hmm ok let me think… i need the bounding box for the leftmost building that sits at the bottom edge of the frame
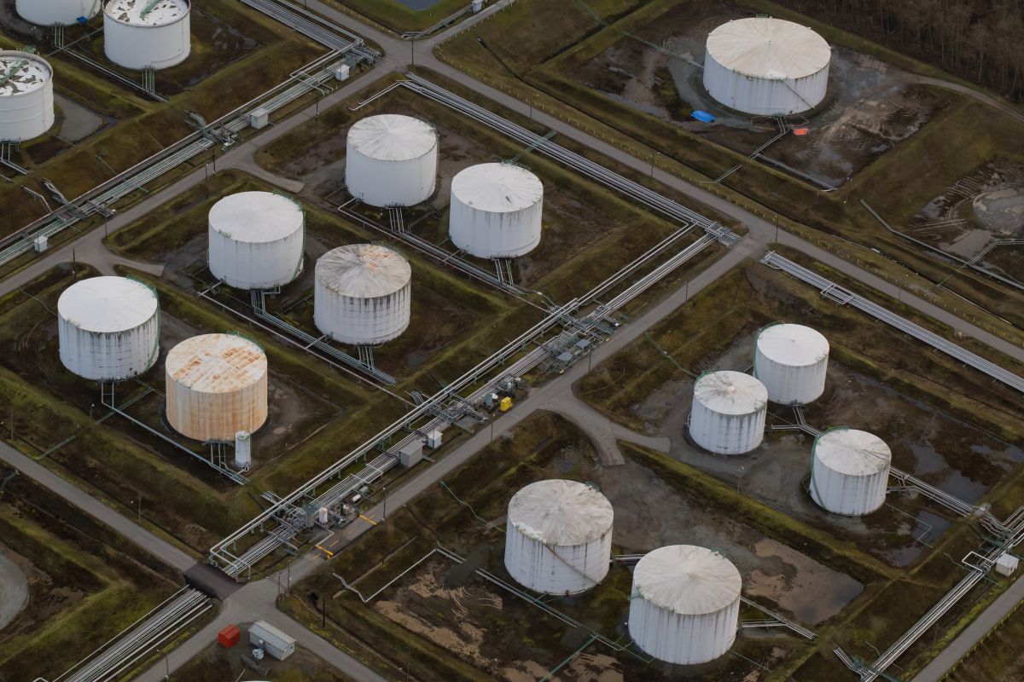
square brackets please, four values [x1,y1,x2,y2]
[251,623,295,662]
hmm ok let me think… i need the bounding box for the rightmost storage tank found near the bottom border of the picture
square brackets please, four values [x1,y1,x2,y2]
[627,543,742,665]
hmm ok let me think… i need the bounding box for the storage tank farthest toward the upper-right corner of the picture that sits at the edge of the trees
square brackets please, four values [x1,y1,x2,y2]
[702,12,831,116]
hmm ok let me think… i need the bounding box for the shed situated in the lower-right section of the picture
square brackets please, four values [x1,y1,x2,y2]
[996,553,1019,577]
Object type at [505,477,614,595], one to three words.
storage tank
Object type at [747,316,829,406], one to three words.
storage tank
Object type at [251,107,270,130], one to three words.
shed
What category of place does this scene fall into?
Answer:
industrial area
